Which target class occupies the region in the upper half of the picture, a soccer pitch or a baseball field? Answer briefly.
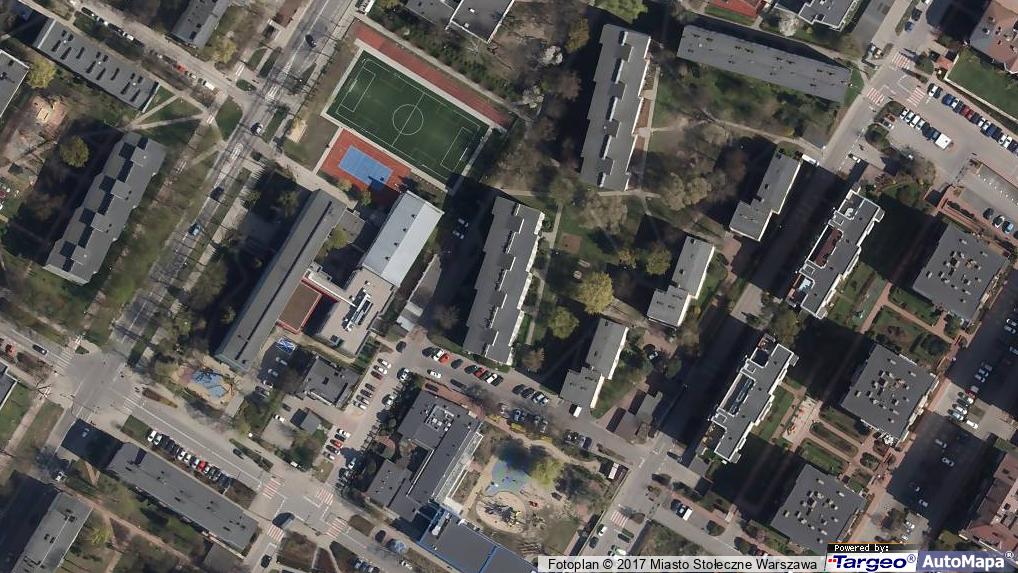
soccer pitch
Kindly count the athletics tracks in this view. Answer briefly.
one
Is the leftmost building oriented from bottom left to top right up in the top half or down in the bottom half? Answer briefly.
bottom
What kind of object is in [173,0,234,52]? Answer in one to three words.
building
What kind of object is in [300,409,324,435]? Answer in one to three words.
shed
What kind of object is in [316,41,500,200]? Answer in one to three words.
soccer field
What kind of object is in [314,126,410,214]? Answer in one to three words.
sports court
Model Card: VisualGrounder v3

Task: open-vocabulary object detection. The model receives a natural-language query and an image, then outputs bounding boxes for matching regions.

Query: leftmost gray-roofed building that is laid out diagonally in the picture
[12,492,96,573]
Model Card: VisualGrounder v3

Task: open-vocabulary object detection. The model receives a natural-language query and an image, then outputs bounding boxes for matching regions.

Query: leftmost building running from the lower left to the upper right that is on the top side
[48,132,170,284]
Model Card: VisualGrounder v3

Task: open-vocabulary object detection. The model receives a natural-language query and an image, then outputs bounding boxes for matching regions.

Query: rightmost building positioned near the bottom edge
[957,444,1018,571]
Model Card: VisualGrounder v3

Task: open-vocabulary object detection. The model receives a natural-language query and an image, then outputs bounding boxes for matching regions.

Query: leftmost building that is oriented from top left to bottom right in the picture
[35,17,160,111]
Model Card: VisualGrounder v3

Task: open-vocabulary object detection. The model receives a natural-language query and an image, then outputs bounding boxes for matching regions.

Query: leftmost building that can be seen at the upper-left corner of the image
[0,51,31,116]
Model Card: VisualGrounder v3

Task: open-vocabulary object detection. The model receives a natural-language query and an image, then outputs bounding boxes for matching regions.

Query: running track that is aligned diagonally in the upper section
[353,22,509,126]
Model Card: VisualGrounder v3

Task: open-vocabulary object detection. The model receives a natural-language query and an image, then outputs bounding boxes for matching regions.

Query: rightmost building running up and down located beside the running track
[580,25,652,193]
